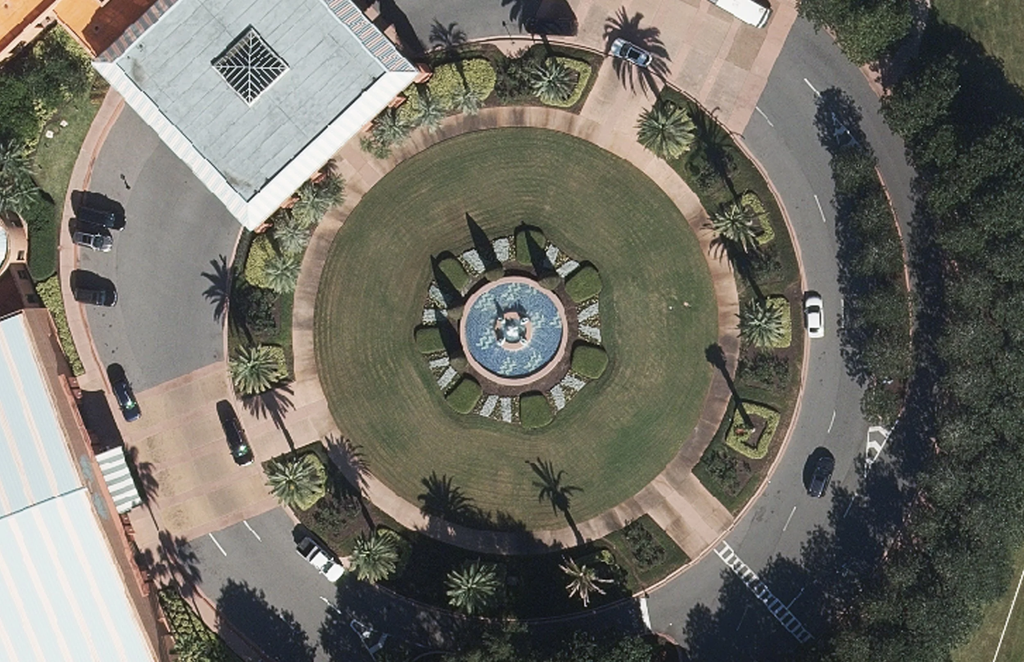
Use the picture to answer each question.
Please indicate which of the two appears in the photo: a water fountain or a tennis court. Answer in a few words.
water fountain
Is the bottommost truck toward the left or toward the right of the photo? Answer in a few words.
left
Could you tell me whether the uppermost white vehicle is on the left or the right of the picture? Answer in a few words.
right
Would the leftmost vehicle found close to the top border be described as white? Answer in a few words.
No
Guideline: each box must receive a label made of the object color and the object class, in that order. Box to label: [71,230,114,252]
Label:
gray car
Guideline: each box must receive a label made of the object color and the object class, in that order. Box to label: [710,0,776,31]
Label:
white vehicle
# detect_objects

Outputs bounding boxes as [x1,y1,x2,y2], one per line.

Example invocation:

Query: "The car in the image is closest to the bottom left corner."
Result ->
[111,378,141,424]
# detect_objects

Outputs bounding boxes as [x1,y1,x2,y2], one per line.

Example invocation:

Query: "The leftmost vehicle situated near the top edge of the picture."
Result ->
[527,15,577,35]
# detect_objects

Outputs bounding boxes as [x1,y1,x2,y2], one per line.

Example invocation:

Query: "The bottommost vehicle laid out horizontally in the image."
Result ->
[74,287,120,308]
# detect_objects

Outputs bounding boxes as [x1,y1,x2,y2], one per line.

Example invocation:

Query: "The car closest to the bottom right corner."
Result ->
[811,456,836,500]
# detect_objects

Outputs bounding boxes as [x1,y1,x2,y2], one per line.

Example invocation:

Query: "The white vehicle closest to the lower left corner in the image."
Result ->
[297,540,344,583]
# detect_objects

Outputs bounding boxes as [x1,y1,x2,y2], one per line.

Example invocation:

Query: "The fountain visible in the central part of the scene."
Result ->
[459,276,568,385]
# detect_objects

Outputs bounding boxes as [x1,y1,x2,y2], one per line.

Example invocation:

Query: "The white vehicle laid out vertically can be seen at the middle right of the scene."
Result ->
[806,297,825,339]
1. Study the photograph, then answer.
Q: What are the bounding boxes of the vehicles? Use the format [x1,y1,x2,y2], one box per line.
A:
[74,287,120,308]
[220,418,254,467]
[297,540,344,583]
[710,0,776,31]
[806,297,825,339]
[78,207,126,230]
[811,456,836,500]
[111,378,141,424]
[527,15,577,35]
[611,40,654,68]
[71,230,114,252]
